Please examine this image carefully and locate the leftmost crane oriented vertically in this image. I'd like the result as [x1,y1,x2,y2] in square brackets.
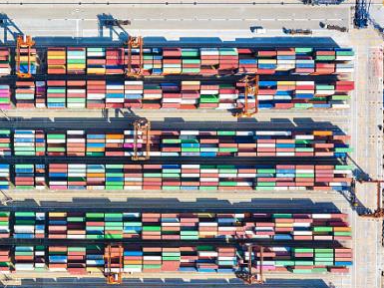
[16,35,36,81]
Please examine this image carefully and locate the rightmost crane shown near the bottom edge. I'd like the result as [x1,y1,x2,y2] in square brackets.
[235,239,264,285]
